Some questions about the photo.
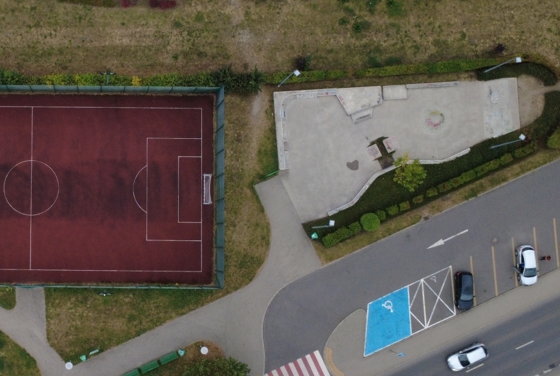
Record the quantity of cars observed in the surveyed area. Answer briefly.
3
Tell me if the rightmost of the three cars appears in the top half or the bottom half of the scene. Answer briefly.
bottom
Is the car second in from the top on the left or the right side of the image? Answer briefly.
right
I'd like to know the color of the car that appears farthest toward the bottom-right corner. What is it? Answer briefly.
white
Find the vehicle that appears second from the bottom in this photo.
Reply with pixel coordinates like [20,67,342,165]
[453,271,477,310]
